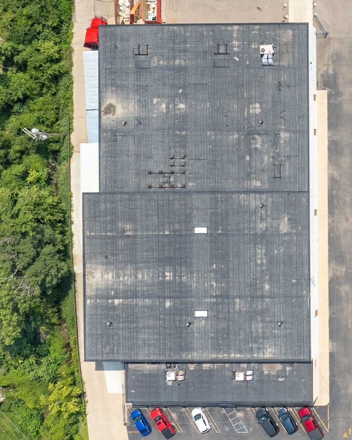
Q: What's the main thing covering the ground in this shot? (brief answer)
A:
buildings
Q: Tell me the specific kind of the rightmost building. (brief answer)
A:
warehouse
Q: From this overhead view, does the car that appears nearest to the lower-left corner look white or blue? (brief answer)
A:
blue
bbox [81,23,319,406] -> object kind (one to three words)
warehouse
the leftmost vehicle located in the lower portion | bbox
[131,408,152,438]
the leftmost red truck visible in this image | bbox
[79,16,110,50]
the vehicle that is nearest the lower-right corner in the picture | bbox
[298,407,325,440]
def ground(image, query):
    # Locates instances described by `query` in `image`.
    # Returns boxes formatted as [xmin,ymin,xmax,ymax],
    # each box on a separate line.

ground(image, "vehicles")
[191,407,211,436]
[131,408,152,438]
[150,407,177,440]
[79,16,110,50]
[257,407,280,438]
[279,407,299,436]
[298,407,325,440]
